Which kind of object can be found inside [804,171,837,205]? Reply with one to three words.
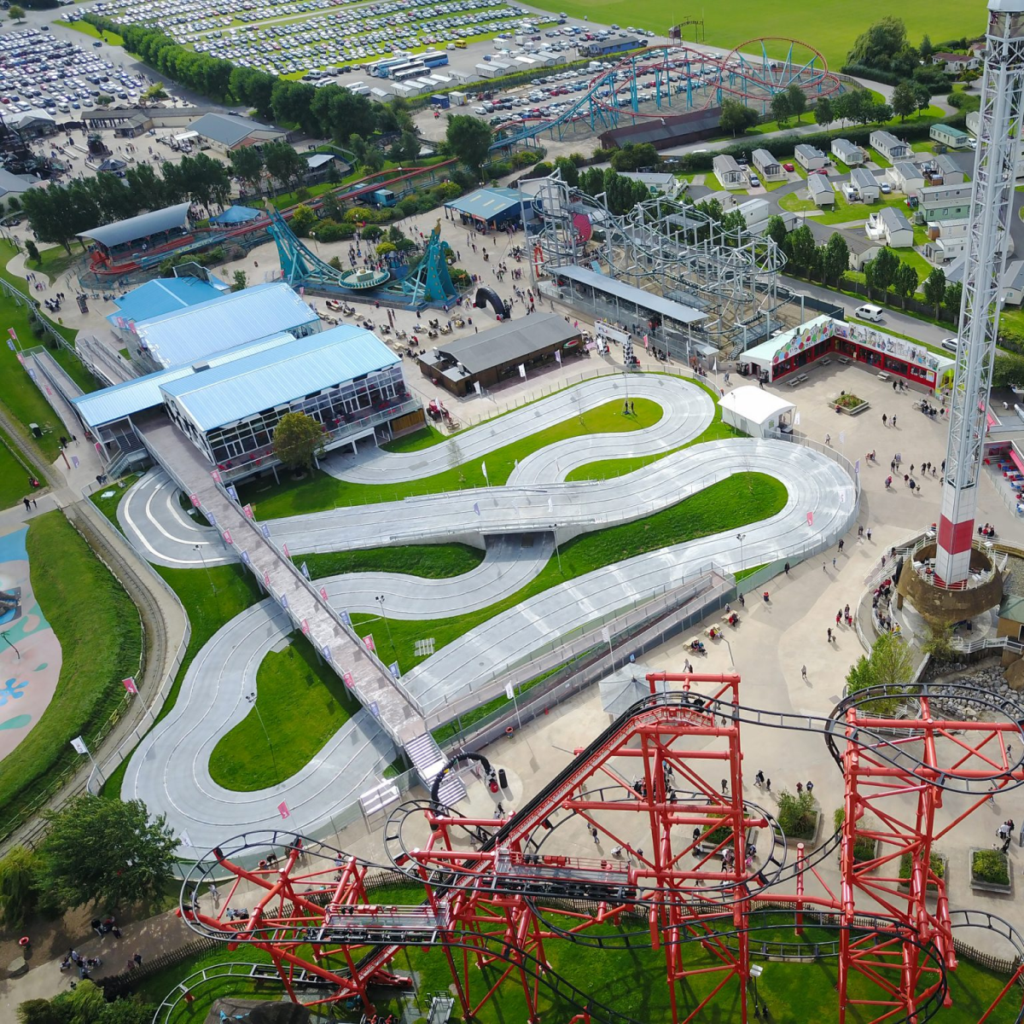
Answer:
camper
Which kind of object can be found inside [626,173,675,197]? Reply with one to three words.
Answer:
house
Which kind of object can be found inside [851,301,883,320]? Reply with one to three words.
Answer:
vehicle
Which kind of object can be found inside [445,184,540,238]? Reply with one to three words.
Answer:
building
